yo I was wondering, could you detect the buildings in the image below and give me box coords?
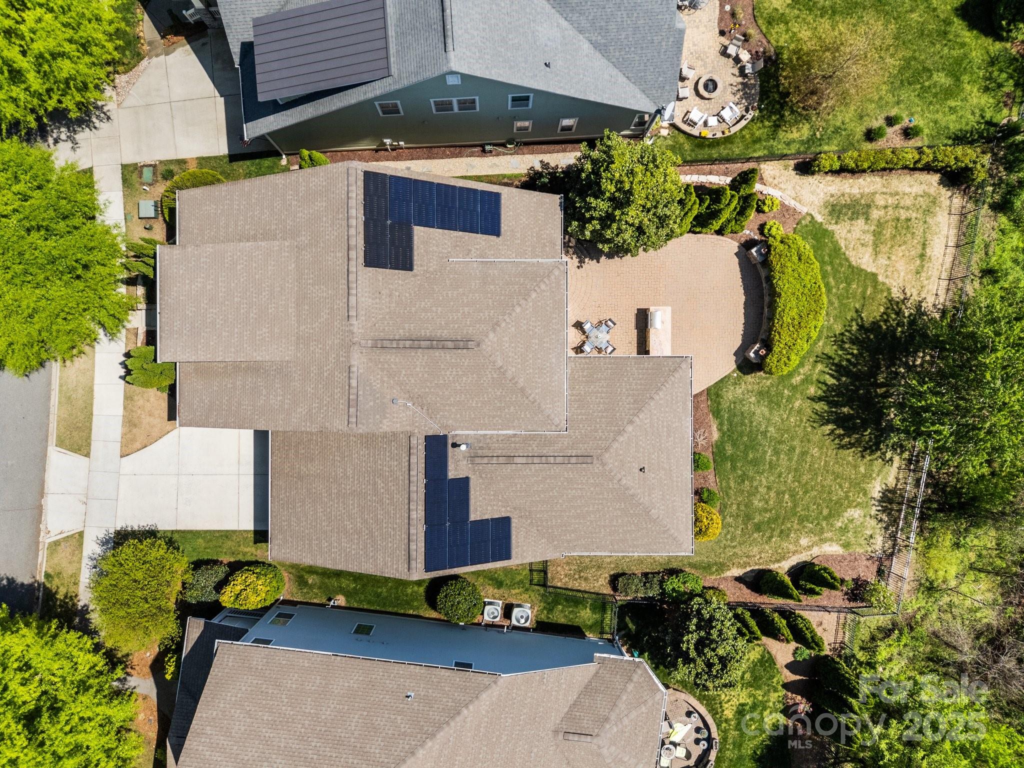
[182,0,687,155]
[154,160,696,580]
[164,596,670,768]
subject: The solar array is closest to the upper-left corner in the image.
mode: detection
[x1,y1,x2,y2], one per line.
[362,171,503,271]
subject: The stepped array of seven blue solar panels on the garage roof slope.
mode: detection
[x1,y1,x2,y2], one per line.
[391,398,514,572]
